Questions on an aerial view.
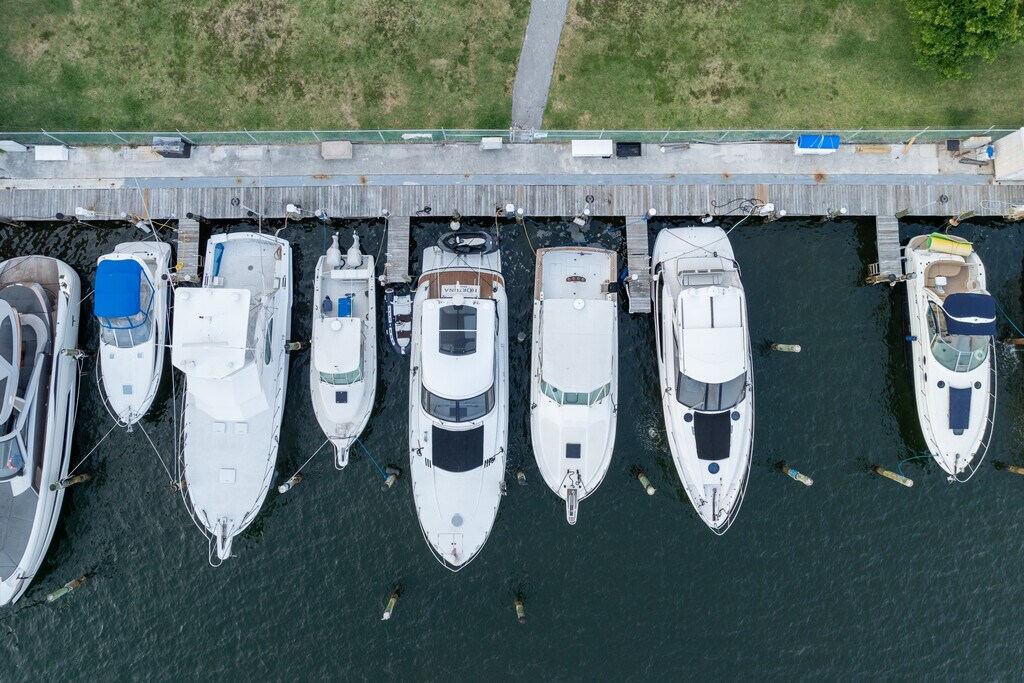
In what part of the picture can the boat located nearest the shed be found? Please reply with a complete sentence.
The boat located nearest the shed is in the right part of the image.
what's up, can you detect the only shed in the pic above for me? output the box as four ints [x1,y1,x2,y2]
[995,131,1024,180]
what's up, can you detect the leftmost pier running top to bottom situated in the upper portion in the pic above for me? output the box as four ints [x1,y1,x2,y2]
[176,219,202,283]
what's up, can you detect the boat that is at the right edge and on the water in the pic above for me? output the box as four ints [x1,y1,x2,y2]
[900,234,1000,485]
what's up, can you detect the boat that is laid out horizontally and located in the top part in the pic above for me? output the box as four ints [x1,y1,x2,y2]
[437,229,501,257]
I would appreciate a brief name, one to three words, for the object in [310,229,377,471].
boat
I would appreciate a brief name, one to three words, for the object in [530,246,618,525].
boat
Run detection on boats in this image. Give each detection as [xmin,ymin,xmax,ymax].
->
[409,246,509,574]
[90,243,173,433]
[530,246,618,525]
[651,227,754,534]
[384,275,420,355]
[310,229,377,471]
[900,234,1000,485]
[437,229,501,257]
[128,232,295,565]
[0,257,83,609]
